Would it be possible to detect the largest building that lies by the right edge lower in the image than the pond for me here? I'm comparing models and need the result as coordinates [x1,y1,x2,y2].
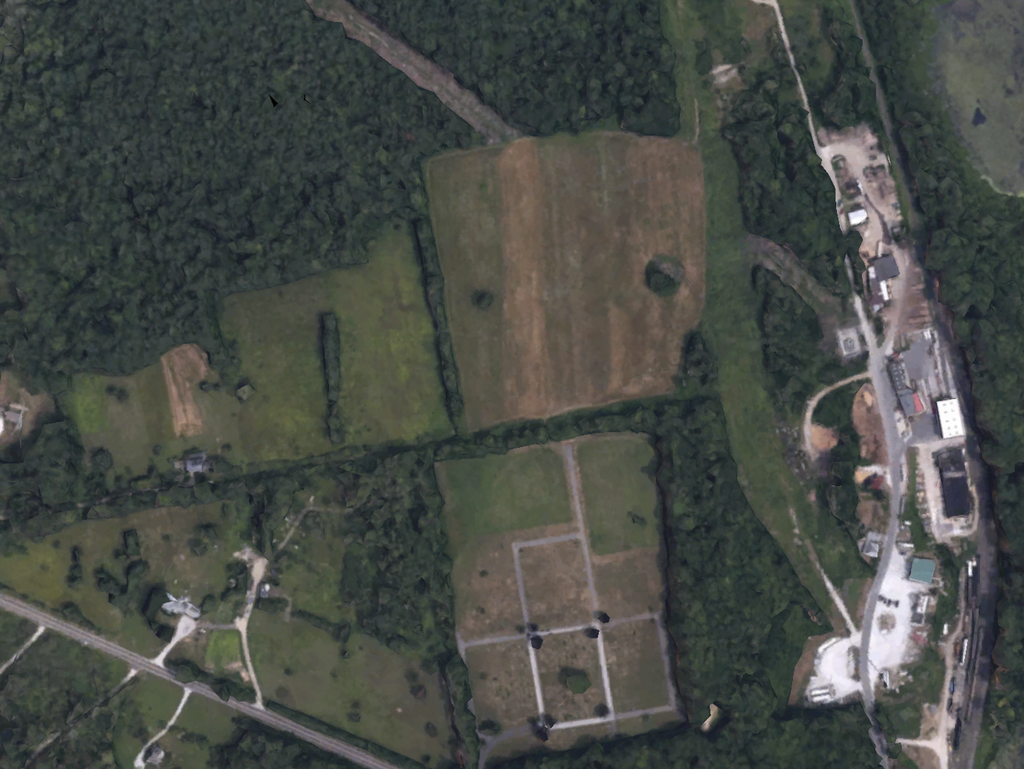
[935,450,974,518]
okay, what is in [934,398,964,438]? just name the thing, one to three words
building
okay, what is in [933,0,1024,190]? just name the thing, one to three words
pond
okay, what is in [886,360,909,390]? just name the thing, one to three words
building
